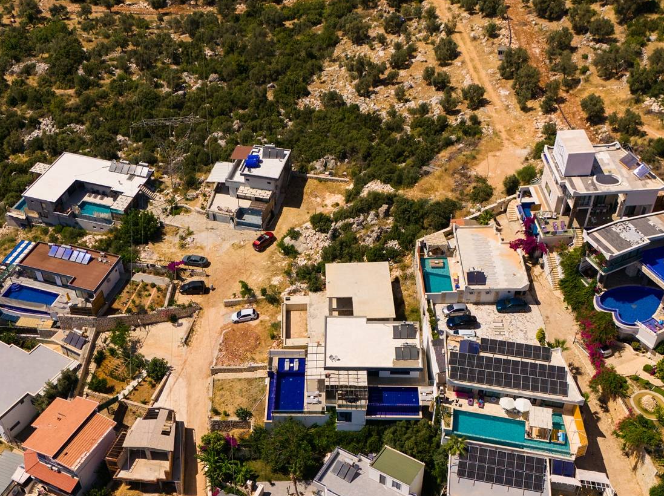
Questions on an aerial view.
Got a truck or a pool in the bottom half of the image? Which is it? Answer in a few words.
pool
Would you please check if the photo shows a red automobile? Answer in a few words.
Yes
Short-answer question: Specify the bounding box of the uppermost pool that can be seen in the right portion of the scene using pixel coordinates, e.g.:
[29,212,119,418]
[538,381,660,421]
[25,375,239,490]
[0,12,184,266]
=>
[516,202,536,220]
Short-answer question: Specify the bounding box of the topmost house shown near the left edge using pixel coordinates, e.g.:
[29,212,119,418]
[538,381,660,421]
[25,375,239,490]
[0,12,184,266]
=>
[6,152,154,236]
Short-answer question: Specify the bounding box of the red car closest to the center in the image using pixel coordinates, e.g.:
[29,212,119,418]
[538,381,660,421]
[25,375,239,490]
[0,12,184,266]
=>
[253,233,278,252]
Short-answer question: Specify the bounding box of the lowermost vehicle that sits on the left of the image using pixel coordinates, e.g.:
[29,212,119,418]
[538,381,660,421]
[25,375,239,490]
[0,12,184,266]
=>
[232,308,259,323]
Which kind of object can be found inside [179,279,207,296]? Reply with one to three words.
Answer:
car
